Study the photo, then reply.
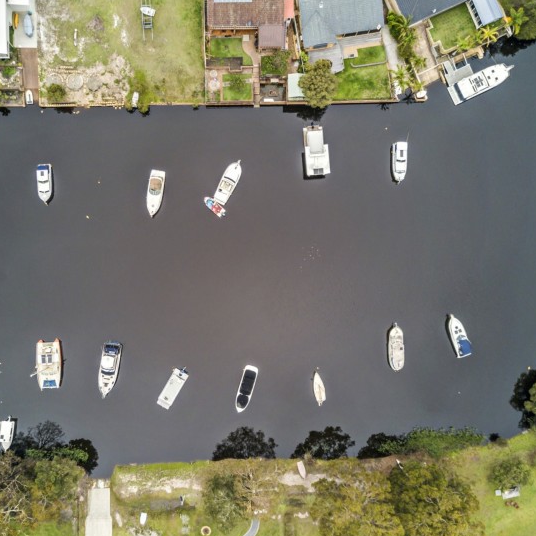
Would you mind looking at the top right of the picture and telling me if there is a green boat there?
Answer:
No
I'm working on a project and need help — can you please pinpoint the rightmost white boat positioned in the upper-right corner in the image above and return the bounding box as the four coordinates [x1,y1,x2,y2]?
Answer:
[443,55,515,108]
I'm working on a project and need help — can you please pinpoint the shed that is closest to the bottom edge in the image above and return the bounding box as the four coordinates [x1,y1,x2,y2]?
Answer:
[288,74,307,102]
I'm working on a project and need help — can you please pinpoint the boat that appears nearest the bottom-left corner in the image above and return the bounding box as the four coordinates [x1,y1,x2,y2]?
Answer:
[0,420,16,452]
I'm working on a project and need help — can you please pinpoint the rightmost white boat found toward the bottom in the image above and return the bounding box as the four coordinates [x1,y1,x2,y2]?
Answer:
[447,314,470,359]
